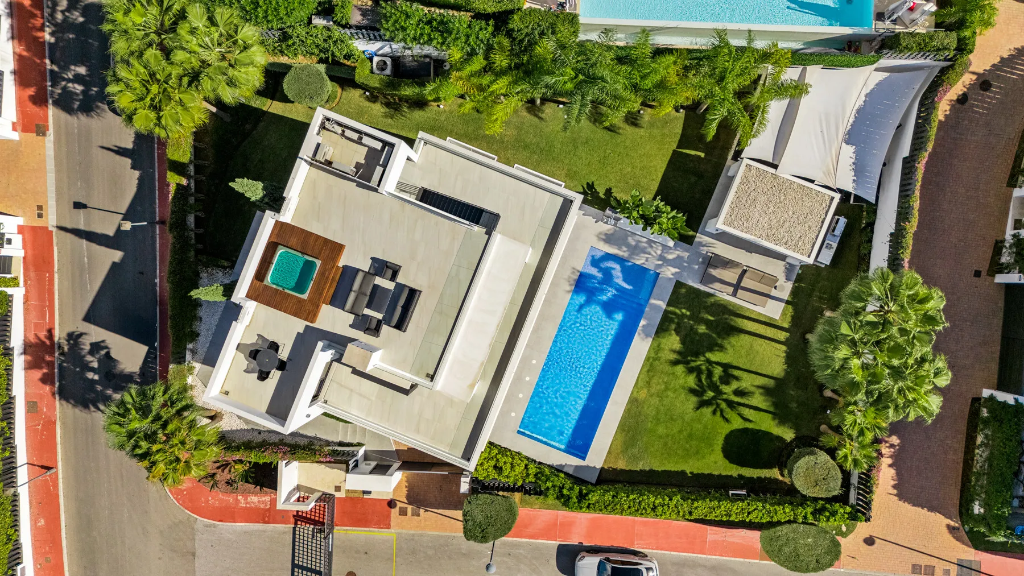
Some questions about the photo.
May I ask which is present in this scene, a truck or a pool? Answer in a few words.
pool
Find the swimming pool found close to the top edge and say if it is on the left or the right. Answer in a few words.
right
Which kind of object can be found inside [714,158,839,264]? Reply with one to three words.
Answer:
building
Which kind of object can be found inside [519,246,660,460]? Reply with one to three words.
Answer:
swimming pool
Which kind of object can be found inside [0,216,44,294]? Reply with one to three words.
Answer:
building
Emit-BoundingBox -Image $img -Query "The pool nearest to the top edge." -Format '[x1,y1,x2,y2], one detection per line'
[575,0,877,53]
